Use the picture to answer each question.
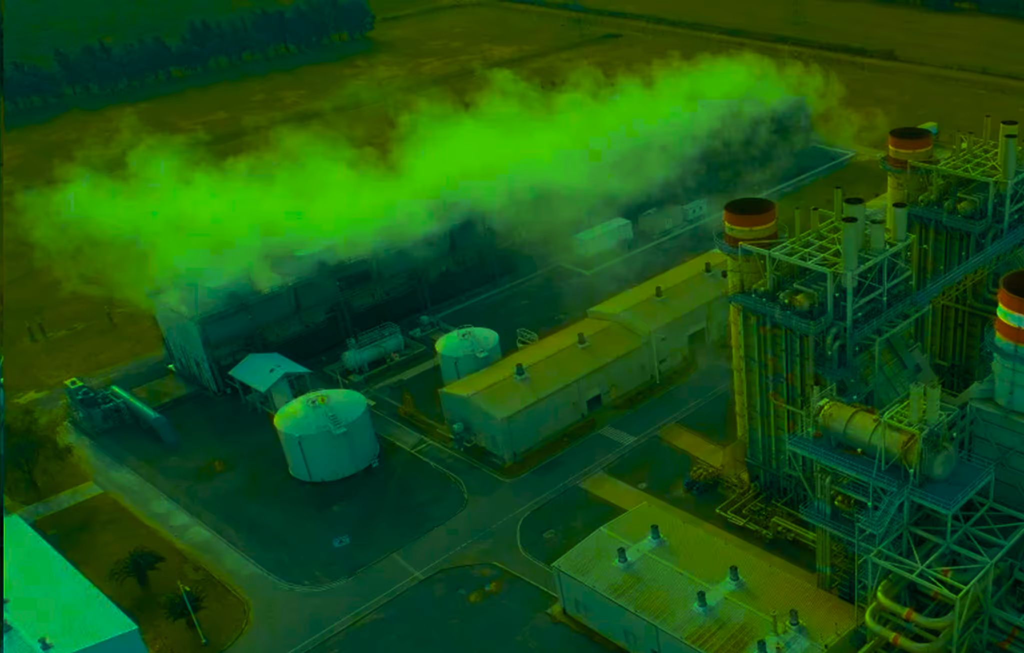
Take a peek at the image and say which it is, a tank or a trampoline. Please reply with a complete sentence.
It is a tank that can be seen here.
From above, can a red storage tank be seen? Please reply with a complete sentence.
No, no red storage tank can be seen from above.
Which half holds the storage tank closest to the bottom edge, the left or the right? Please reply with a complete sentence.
You can find the storage tank closest to the bottom edge on the left side of the picture.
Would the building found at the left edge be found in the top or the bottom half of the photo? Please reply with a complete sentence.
The bottom half of the photo is where the building found at the left edge is.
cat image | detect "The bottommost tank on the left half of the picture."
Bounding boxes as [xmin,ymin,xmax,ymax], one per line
[273,387,388,483]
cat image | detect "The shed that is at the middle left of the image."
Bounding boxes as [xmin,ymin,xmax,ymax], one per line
[230,352,316,419]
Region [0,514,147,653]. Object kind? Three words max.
building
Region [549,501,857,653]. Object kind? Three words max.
warehouse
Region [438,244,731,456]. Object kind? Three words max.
building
